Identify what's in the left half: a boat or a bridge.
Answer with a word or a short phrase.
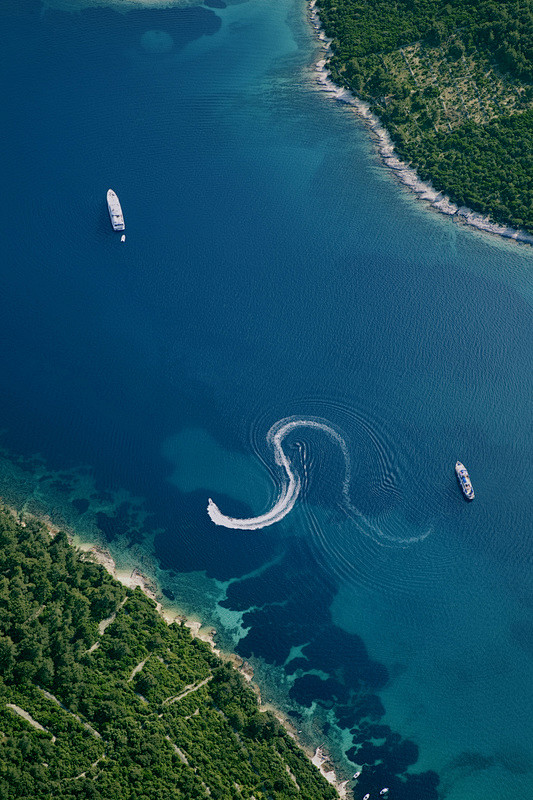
boat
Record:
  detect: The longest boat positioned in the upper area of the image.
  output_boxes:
[107,188,124,234]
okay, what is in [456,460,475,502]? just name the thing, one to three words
boat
